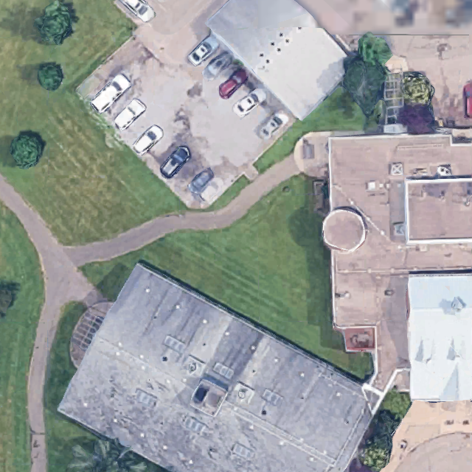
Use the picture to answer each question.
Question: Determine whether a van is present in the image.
Yes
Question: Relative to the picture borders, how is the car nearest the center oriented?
on a diagonal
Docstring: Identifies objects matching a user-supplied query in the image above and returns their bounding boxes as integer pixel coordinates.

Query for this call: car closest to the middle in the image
[187,166,215,197]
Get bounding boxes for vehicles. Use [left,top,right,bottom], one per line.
[186,35,220,66]
[257,109,291,140]
[216,66,250,98]
[233,86,267,117]
[131,123,166,157]
[401,0,424,26]
[160,143,190,178]
[86,72,131,113]
[203,50,234,79]
[187,166,215,197]
[119,0,154,23]
[113,98,148,132]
